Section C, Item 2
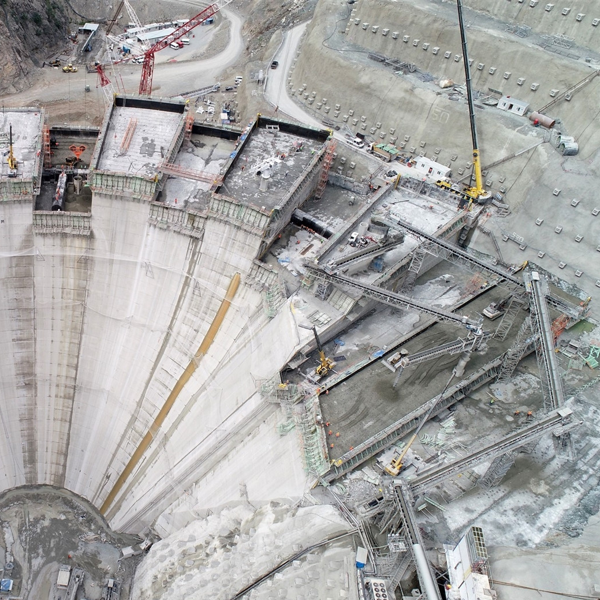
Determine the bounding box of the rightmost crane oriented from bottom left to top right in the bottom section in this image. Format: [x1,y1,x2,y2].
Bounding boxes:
[378,374,458,475]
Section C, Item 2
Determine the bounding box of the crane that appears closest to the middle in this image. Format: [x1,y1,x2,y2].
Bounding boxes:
[303,326,338,379]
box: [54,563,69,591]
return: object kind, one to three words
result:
building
